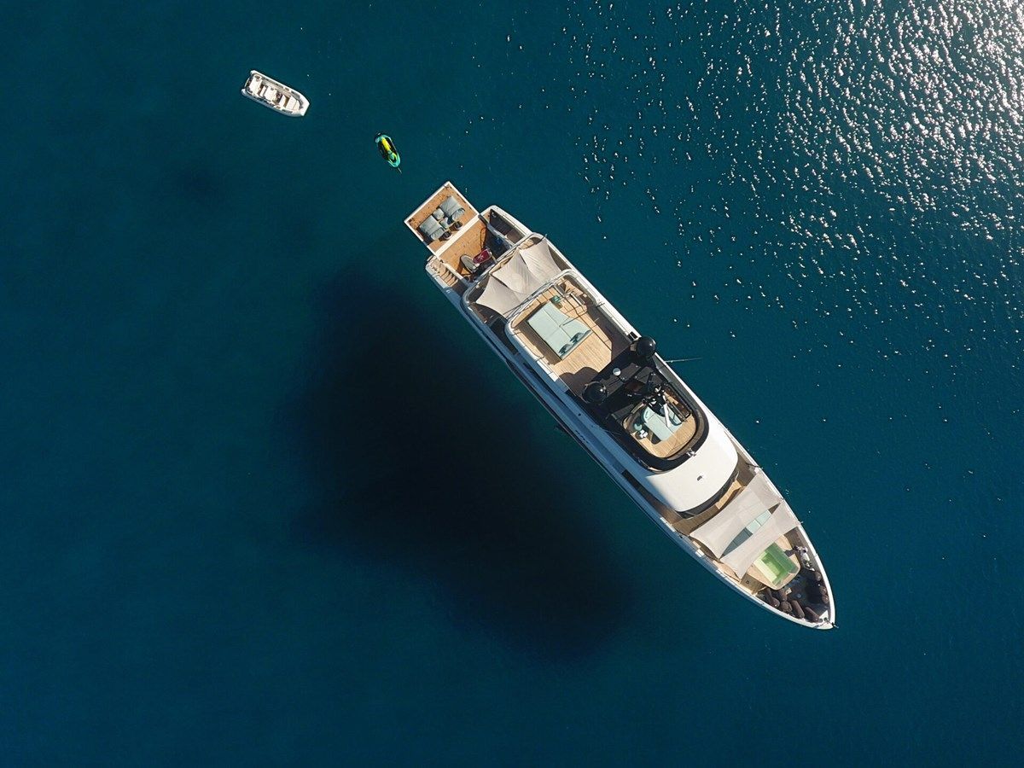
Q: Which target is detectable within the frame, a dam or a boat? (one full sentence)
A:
The one in the frame is a boat.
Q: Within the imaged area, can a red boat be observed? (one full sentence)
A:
No, I can't see a single red boat in this photo.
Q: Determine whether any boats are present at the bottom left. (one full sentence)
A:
No, looking at the bottom left, there is no boat.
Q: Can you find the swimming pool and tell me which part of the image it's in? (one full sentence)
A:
The swimming pool is located in the bottom right region of the scene.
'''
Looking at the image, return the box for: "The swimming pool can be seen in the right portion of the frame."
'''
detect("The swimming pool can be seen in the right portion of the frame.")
[747,537,801,590]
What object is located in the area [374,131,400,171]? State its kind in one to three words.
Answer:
boat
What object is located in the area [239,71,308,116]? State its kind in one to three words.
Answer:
boat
